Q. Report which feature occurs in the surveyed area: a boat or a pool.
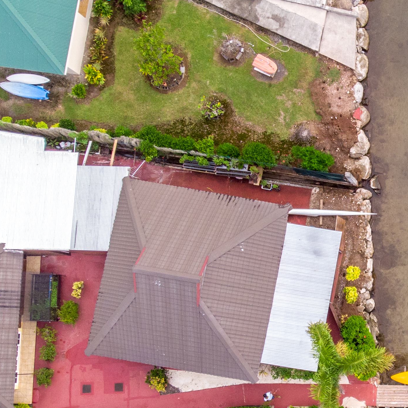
boat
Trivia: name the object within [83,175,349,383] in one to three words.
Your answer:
house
